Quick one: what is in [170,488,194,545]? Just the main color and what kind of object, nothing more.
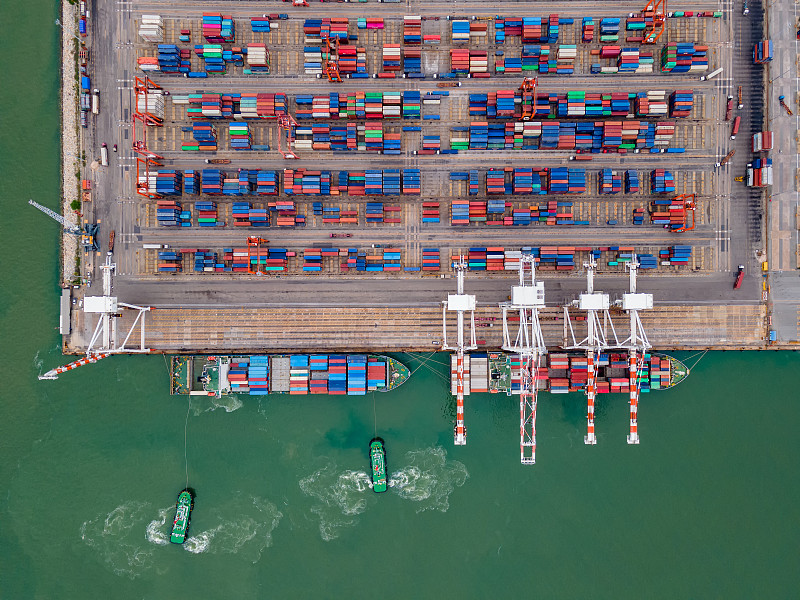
green boat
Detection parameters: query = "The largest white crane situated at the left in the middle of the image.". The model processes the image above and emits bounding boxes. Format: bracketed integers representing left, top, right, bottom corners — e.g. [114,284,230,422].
[49,251,147,380]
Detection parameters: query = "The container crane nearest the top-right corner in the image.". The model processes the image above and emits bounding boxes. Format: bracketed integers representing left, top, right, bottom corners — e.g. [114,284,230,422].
[637,0,665,45]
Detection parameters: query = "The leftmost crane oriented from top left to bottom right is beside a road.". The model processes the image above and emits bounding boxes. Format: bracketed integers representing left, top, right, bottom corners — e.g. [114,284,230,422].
[28,200,102,256]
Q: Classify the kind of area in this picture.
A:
port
